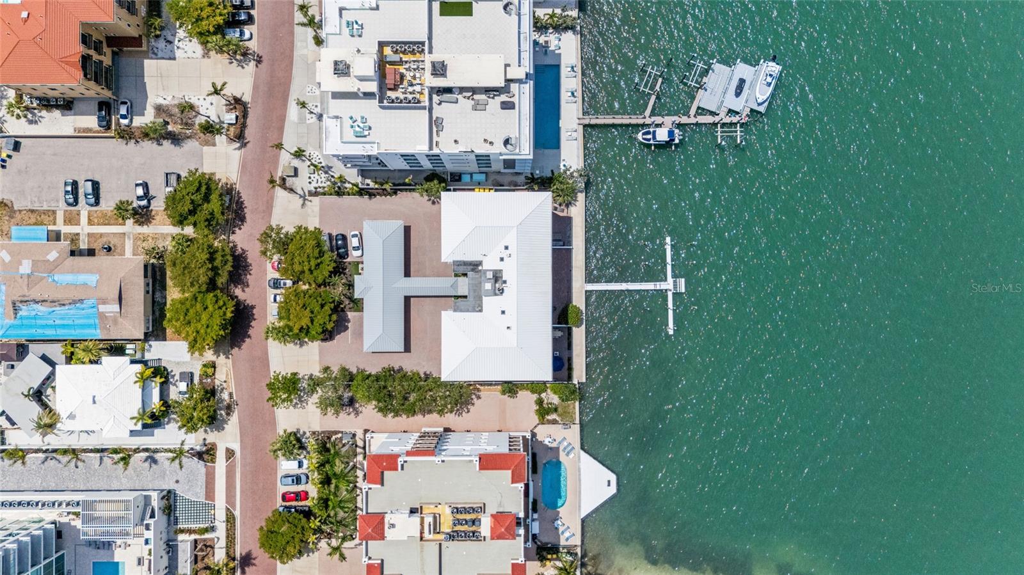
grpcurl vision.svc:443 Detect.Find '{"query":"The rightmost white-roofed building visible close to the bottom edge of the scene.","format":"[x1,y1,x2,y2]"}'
[358,426,531,575]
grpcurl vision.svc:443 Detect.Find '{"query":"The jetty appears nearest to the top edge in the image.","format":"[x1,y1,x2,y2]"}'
[582,76,750,127]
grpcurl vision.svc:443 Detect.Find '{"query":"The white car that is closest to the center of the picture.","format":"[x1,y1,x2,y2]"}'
[350,230,363,258]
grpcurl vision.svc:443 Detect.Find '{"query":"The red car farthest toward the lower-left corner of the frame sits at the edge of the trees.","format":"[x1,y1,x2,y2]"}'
[282,490,310,503]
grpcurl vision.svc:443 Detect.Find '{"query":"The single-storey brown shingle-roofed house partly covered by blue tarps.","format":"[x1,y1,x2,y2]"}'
[0,241,150,339]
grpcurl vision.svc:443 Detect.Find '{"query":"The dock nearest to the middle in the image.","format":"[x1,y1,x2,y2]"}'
[585,237,685,334]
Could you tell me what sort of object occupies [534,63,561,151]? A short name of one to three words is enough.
swimming pool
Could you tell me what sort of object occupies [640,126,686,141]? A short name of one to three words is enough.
boat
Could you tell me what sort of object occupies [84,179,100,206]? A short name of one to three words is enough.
car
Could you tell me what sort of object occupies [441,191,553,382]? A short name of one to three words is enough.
house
